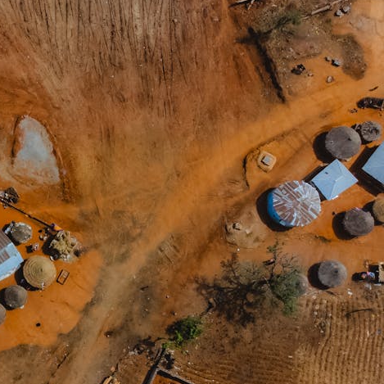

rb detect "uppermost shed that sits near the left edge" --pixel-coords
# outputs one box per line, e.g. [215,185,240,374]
[8,218,34,245]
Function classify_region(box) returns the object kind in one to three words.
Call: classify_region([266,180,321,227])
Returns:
house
